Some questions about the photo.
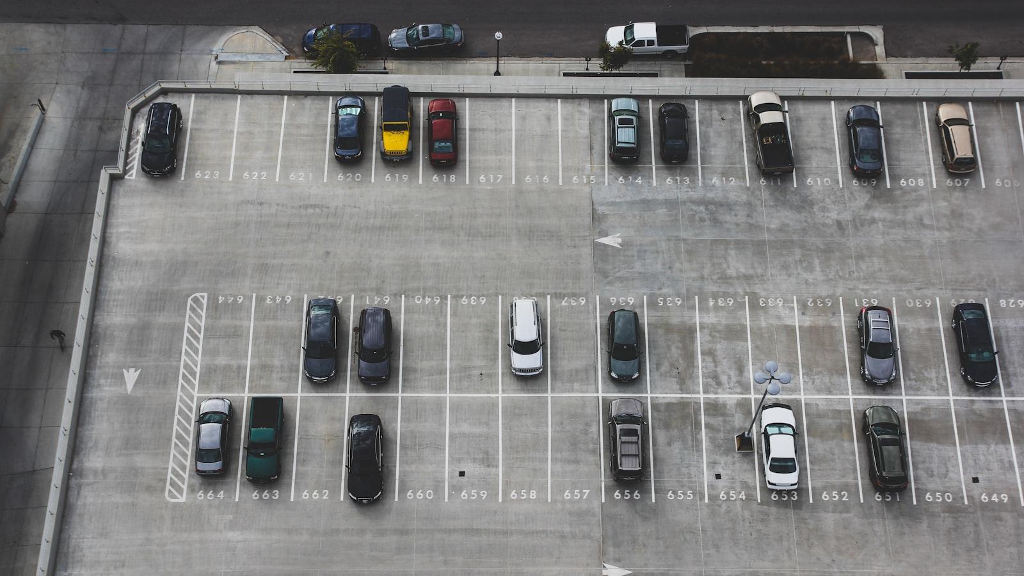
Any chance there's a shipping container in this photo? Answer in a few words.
No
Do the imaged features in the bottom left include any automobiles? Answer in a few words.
Yes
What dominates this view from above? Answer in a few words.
paved ground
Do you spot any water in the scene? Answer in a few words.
No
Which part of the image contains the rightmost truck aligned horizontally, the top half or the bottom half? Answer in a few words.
top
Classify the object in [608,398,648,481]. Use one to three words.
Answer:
car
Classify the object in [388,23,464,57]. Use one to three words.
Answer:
car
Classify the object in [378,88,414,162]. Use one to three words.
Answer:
vehicle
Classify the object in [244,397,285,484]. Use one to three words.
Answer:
truck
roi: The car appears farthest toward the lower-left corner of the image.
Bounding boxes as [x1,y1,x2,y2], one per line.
[195,397,233,475]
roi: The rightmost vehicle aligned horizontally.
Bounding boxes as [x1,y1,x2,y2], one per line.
[605,24,689,58]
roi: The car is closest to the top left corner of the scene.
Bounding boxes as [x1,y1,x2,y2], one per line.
[141,101,183,175]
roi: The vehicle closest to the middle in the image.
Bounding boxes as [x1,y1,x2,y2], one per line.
[507,299,544,377]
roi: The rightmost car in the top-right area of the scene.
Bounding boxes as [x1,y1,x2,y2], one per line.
[936,104,978,173]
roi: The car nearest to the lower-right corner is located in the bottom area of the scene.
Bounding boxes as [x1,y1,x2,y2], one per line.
[861,405,908,491]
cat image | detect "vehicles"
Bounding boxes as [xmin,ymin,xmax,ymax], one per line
[141,101,183,175]
[388,23,464,57]
[936,104,978,173]
[332,95,367,162]
[605,24,689,58]
[355,307,393,385]
[344,413,385,504]
[608,398,648,481]
[758,403,799,490]
[608,99,643,164]
[301,299,340,384]
[861,405,908,491]
[856,305,899,386]
[952,303,999,388]
[606,307,643,384]
[244,397,285,484]
[195,397,233,475]
[749,93,794,176]
[840,105,882,177]
[507,299,544,377]
[657,102,691,164]
[378,88,414,162]
[426,98,459,165]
